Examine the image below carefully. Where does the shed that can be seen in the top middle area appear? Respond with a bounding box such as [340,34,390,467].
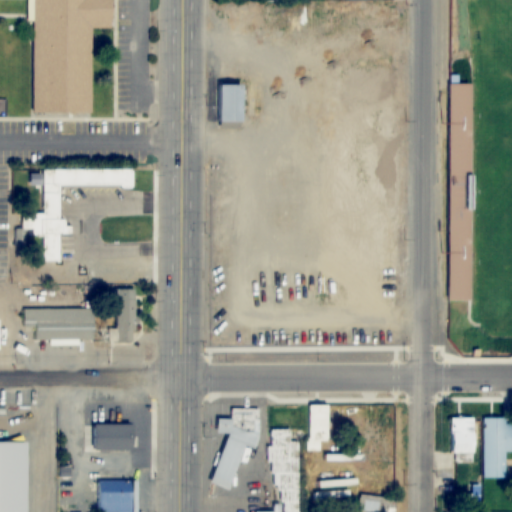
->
[218,84,246,122]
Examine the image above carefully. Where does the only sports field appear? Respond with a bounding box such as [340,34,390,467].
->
[450,0,512,357]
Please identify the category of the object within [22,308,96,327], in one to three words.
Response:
building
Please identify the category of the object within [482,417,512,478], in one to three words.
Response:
house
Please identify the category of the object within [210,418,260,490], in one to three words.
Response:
building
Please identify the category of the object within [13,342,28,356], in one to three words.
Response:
vehicle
